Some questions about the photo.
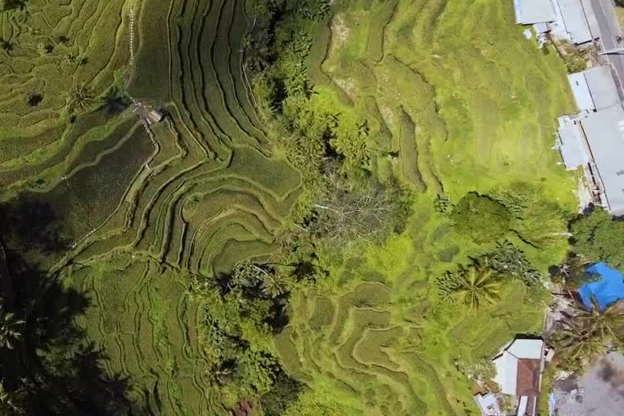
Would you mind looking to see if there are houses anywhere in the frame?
Yes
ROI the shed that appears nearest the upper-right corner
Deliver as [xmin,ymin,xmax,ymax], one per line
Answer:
[550,0,601,44]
